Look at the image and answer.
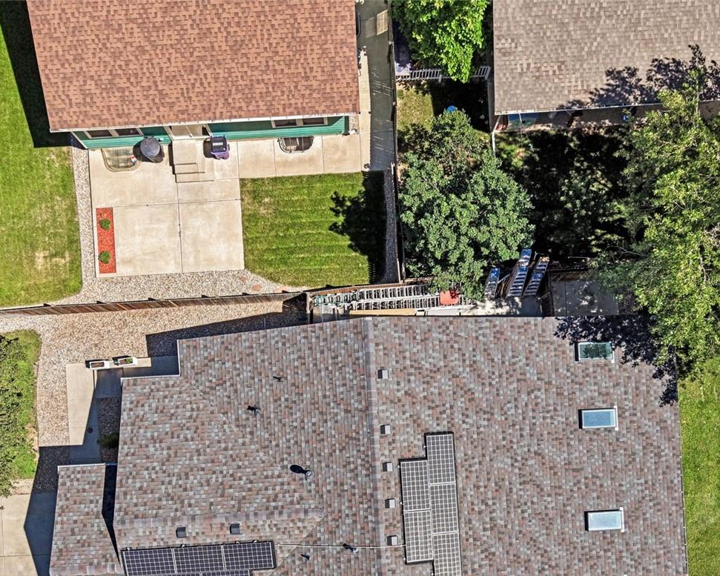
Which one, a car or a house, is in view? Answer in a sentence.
I can see a house in this picture.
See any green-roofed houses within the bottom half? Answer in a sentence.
No, I see no green-roofed house within the bottom half.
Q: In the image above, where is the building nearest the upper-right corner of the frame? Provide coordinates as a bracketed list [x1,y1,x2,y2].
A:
[483,0,720,140]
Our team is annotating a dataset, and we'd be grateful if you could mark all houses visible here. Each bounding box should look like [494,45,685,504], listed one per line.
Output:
[483,0,720,140]
[51,313,691,576]
[30,0,358,147]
